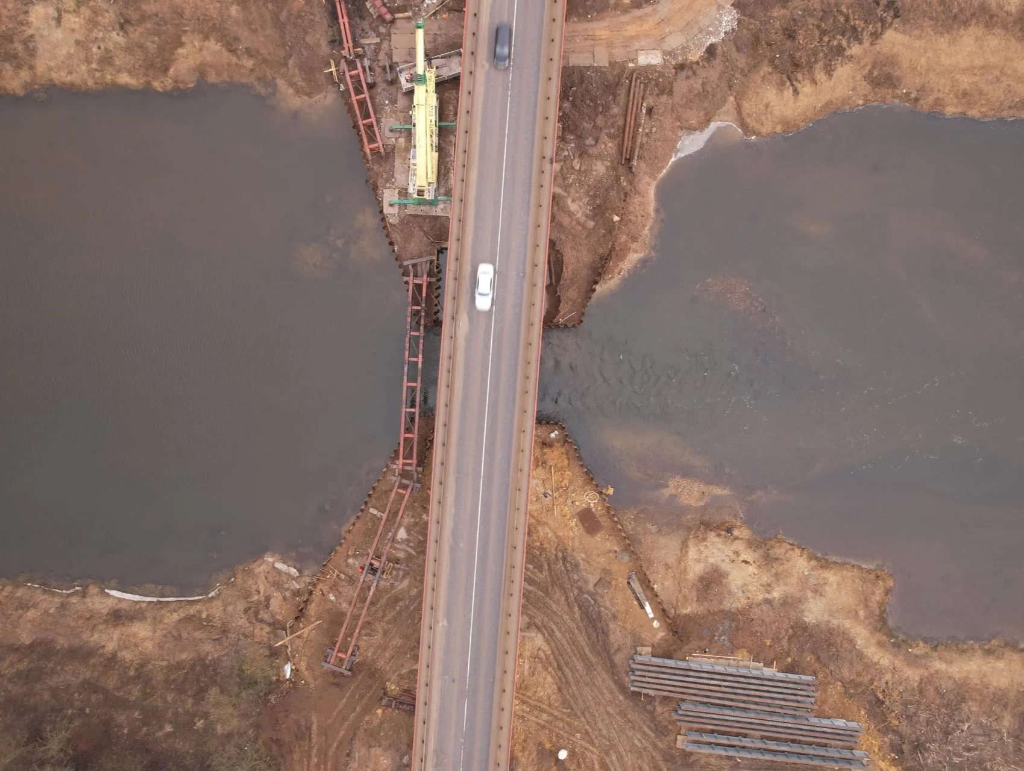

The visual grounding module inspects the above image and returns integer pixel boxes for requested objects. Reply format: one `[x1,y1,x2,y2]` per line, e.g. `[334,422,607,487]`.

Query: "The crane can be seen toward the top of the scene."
[387,17,455,207]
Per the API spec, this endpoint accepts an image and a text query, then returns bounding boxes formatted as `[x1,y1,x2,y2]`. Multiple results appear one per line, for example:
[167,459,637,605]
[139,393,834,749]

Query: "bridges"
[410,0,567,771]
